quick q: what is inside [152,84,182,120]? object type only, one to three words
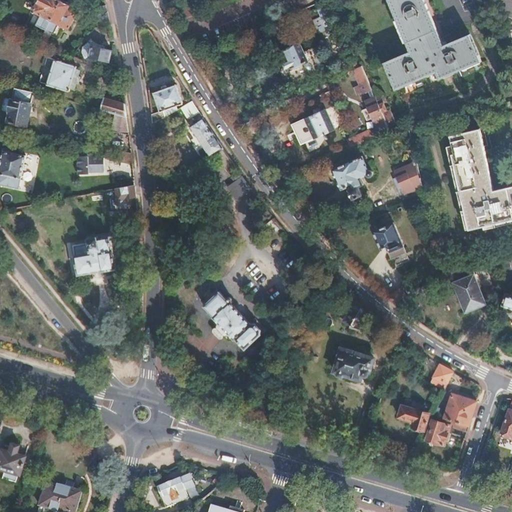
house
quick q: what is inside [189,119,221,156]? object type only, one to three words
house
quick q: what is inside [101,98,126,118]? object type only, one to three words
building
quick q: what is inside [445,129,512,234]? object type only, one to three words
building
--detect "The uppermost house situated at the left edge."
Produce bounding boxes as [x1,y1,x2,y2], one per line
[24,0,76,33]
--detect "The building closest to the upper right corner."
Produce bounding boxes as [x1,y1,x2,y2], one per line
[382,0,480,92]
